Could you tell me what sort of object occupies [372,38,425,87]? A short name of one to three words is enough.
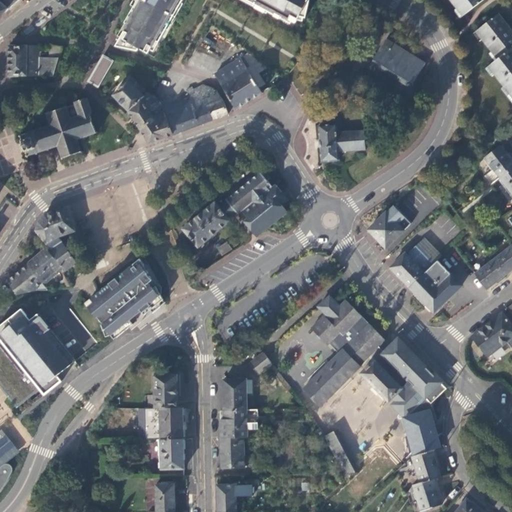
building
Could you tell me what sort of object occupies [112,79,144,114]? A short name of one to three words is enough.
house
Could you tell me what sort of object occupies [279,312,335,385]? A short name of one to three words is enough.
playground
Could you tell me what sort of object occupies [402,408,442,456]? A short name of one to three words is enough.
house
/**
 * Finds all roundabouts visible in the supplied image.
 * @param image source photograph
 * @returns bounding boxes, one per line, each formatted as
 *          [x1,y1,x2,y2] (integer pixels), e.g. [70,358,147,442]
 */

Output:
[306,196,354,244]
